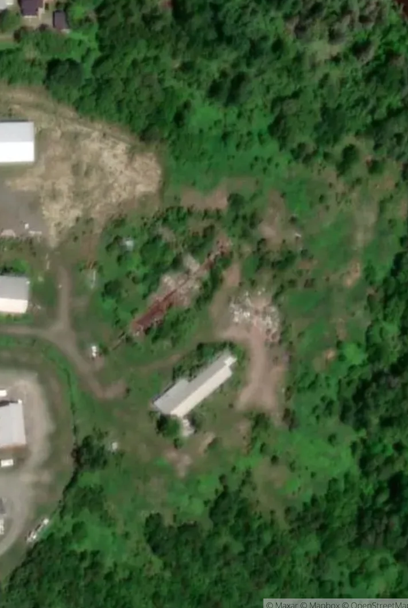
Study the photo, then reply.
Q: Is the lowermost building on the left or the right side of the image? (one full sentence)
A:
The lowermost building is on the left side of the image.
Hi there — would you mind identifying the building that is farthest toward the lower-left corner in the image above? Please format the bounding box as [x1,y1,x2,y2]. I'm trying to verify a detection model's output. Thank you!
[0,399,26,447]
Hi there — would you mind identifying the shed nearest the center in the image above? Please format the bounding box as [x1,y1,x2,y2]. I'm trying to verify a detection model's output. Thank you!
[131,287,185,338]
